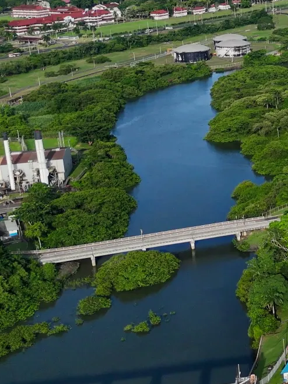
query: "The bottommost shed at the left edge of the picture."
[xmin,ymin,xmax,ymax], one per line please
[1,212,31,236]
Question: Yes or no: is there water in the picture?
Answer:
Yes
